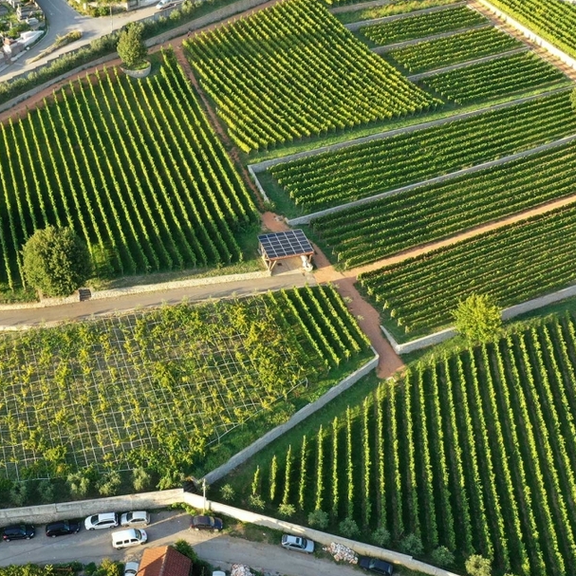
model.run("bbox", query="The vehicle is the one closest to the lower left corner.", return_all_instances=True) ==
[1,523,34,542]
